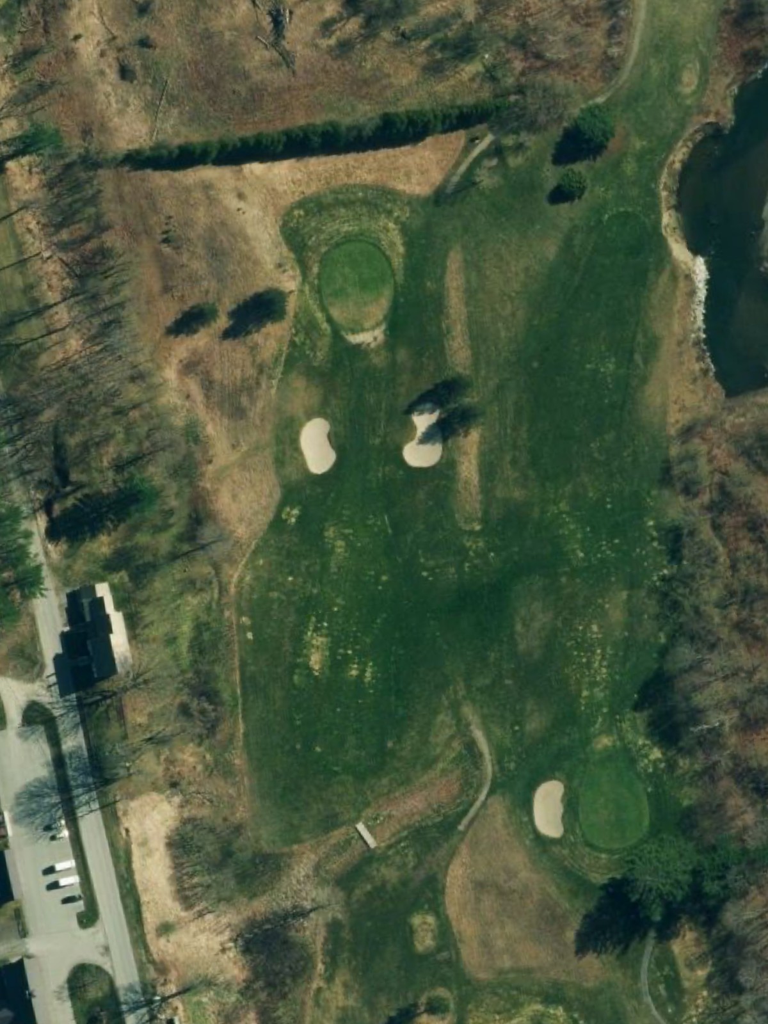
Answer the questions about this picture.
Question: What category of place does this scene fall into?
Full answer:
It's a golf course.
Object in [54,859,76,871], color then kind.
white vehicle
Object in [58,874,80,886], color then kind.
white vehicle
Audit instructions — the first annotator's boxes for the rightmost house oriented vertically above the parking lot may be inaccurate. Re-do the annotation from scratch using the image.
[82,579,134,678]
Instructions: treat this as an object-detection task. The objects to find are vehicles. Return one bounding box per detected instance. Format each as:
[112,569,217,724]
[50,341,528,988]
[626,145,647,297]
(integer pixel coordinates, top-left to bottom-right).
[53,829,70,839]
[54,859,76,871]
[49,819,67,829]
[58,874,80,886]
[66,894,83,903]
